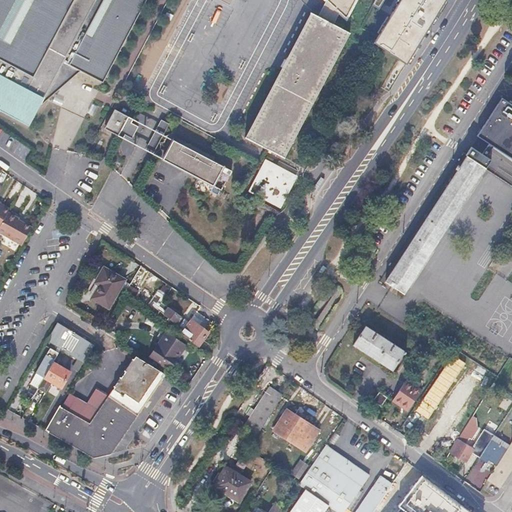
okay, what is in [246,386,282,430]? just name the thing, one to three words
house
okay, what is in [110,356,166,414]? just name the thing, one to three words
building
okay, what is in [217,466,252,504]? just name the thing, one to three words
house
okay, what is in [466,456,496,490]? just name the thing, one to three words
shed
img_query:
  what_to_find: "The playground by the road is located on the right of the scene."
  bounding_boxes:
[372,156,512,355]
